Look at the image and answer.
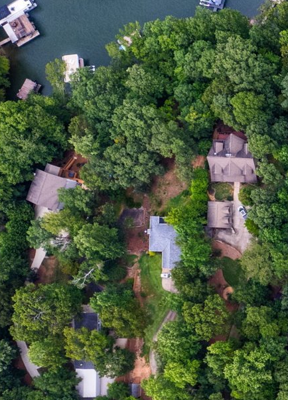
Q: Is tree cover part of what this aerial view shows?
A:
Yes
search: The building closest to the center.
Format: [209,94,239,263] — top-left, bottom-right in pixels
[147,216,184,270]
